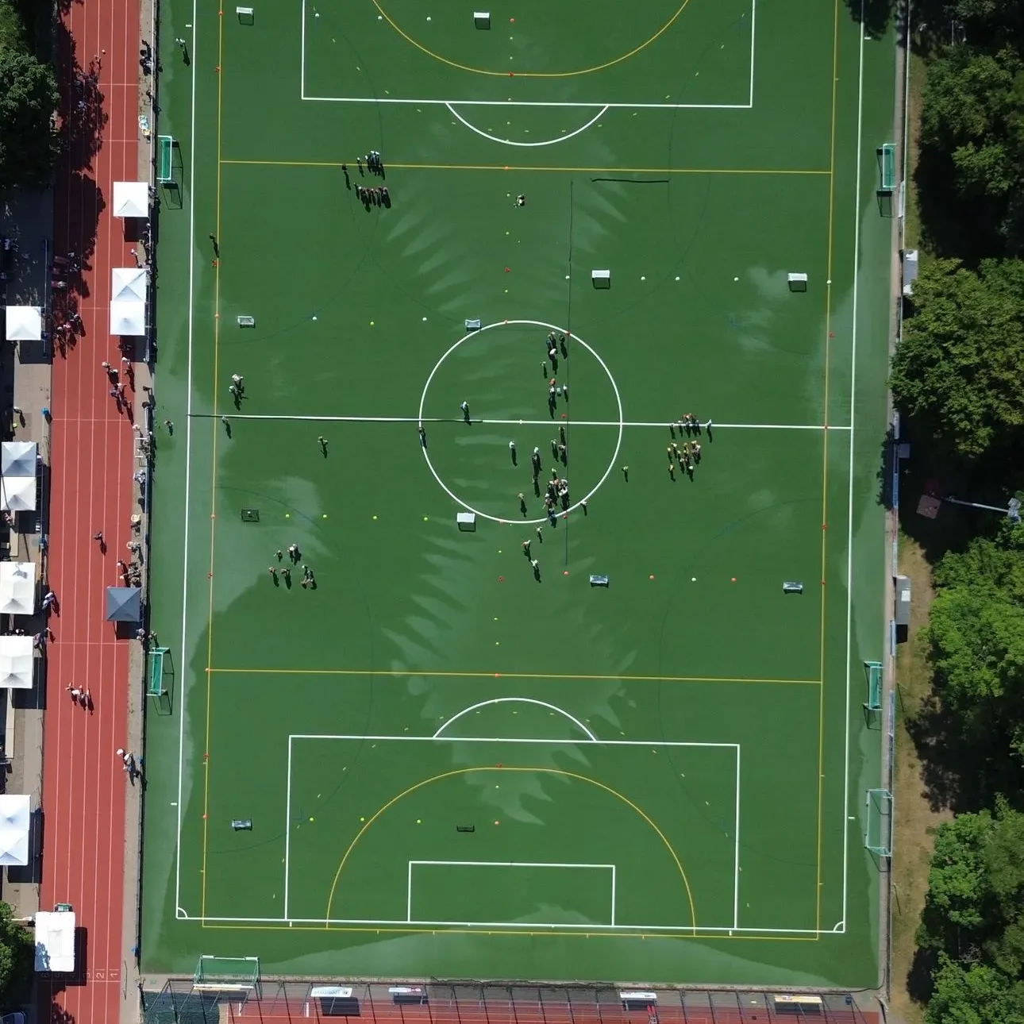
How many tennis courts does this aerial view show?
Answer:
0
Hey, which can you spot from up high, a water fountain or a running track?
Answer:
running track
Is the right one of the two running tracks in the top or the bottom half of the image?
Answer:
bottom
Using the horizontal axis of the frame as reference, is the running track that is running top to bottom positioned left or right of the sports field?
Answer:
left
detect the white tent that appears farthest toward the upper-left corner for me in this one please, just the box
[113,182,151,221]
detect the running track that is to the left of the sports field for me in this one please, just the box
[36,0,139,1024]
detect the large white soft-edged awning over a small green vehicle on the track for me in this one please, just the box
[34,905,77,972]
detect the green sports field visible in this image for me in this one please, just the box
[141,0,897,988]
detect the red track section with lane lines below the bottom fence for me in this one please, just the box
[228,1001,879,1024]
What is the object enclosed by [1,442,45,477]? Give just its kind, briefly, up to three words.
tent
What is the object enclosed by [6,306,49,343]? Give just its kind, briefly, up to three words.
tent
